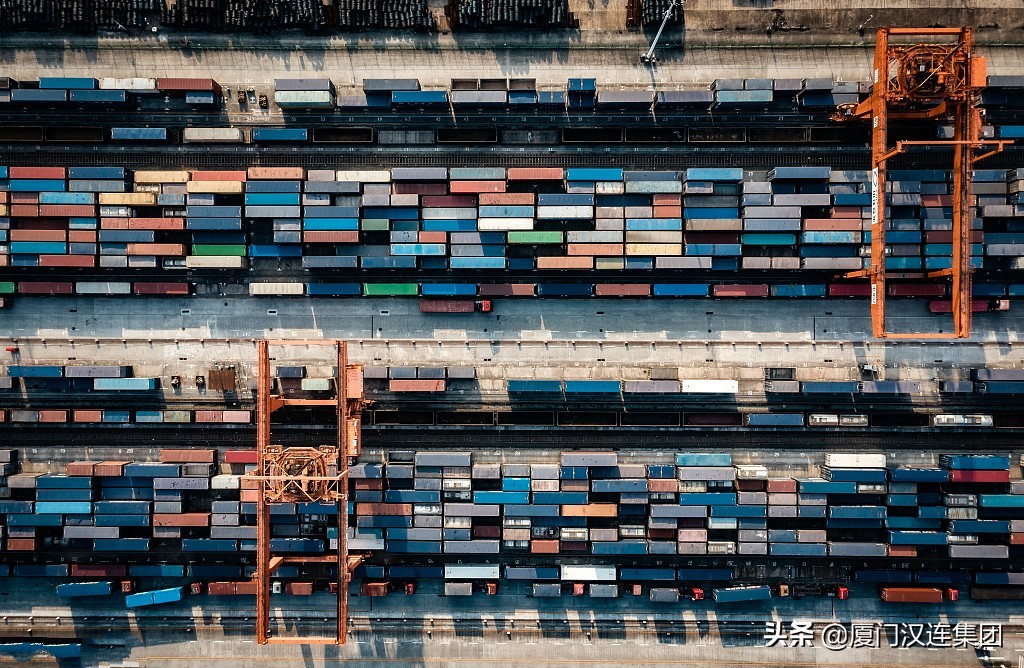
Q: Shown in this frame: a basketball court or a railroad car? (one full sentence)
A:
There is a railroad car in the scene.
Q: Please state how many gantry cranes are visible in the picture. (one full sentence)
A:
Altogether the scene contains 2 gantry cranes.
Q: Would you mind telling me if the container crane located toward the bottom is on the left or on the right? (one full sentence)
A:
The container crane located toward the bottom sits on the left side.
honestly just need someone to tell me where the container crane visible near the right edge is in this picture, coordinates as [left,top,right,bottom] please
[832,27,1014,339]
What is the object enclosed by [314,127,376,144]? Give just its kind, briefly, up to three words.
rail car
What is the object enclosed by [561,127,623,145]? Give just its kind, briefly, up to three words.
rail car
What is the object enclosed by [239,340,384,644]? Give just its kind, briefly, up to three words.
container crane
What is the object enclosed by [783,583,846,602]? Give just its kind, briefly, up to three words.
vehicle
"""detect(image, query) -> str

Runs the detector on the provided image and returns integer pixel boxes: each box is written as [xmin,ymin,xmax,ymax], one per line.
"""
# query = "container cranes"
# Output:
[832,27,1014,339]
[239,340,384,644]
